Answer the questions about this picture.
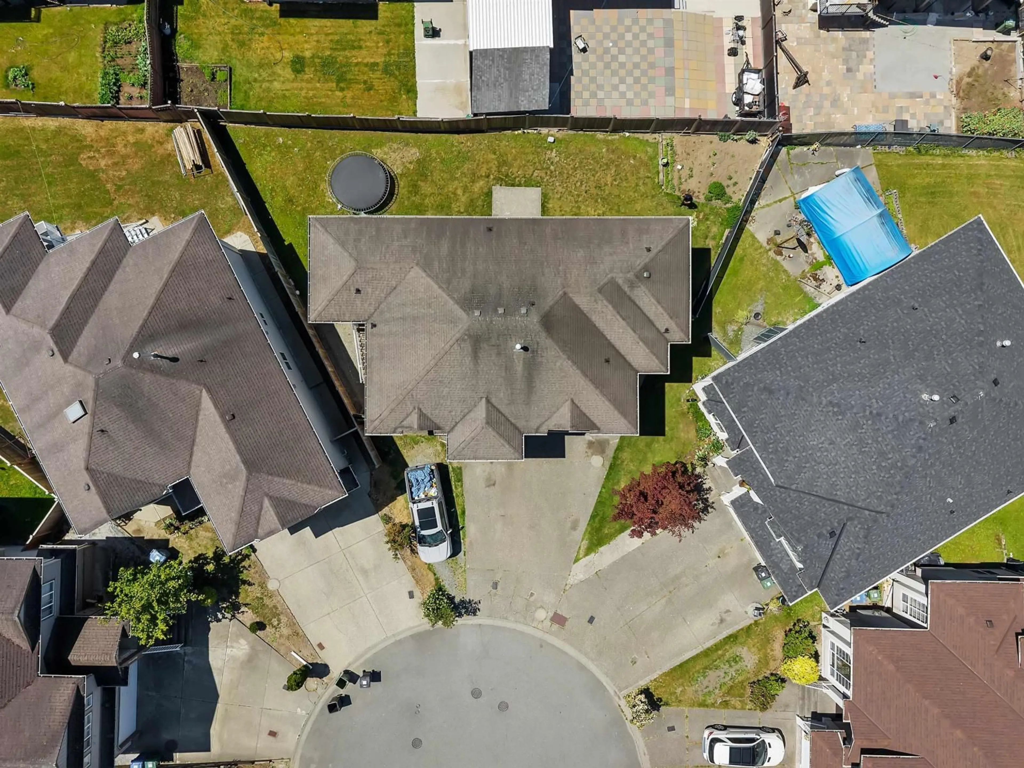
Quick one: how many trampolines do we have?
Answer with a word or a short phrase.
one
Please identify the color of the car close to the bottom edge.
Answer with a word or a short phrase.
white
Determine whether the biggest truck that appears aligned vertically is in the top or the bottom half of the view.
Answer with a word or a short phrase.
bottom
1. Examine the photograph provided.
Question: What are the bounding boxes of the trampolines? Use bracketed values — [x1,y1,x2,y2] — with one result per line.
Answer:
[326,150,391,214]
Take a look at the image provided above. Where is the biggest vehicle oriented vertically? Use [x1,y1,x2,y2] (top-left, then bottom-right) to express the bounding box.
[404,461,454,565]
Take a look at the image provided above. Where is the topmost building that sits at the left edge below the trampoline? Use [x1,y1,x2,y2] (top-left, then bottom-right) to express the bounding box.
[0,208,358,557]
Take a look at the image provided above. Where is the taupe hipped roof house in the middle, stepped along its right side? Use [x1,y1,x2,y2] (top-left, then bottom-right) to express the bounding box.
[306,214,694,464]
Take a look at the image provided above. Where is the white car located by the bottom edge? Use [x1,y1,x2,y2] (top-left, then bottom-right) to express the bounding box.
[702,724,787,768]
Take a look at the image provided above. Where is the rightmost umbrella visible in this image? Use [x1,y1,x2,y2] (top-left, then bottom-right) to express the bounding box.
[778,233,809,254]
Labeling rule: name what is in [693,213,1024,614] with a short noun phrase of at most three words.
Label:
house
